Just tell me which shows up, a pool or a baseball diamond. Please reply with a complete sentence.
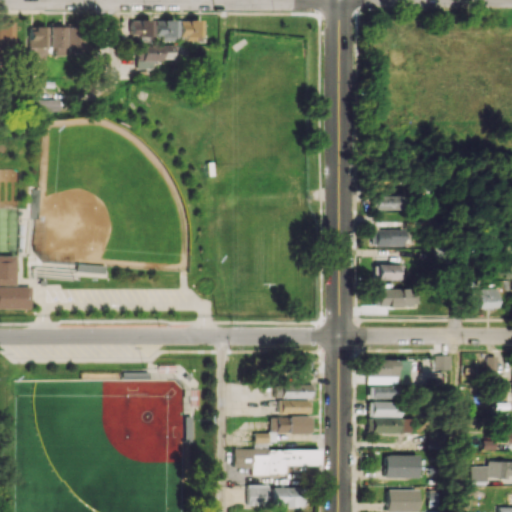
I can see a baseball diamond in this picture.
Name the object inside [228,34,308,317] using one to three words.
sports field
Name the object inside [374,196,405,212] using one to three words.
house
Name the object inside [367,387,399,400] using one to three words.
house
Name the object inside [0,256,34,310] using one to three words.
building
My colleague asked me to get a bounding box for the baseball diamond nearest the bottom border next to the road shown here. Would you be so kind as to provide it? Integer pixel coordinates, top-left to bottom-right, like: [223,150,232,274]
[16,381,184,512]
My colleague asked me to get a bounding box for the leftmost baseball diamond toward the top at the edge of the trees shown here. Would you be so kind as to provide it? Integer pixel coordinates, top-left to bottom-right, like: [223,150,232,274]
[34,117,188,268]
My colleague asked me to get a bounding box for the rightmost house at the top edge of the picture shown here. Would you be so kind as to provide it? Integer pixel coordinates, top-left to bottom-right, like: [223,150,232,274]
[180,20,207,43]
